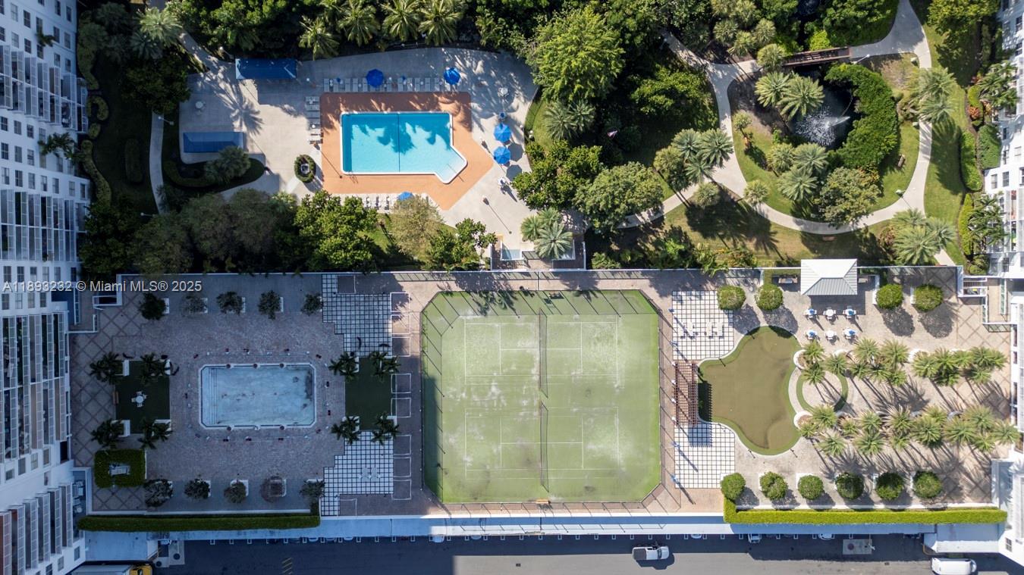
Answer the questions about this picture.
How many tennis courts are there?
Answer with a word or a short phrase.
two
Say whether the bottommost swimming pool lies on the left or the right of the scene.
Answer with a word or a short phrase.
left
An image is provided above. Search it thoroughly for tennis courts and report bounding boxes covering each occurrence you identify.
[422,291,660,396]
[423,396,661,503]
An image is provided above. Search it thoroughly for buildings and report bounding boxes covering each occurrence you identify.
[795,259,858,295]
[979,0,1024,554]
[0,0,102,575]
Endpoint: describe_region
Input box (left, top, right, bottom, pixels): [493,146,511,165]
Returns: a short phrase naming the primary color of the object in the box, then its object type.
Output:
blue umbrella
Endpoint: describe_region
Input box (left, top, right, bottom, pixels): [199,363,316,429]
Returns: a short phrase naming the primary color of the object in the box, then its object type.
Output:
blue swimming pool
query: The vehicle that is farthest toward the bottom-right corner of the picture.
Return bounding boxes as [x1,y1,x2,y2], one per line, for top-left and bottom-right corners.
[929,555,972,574]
